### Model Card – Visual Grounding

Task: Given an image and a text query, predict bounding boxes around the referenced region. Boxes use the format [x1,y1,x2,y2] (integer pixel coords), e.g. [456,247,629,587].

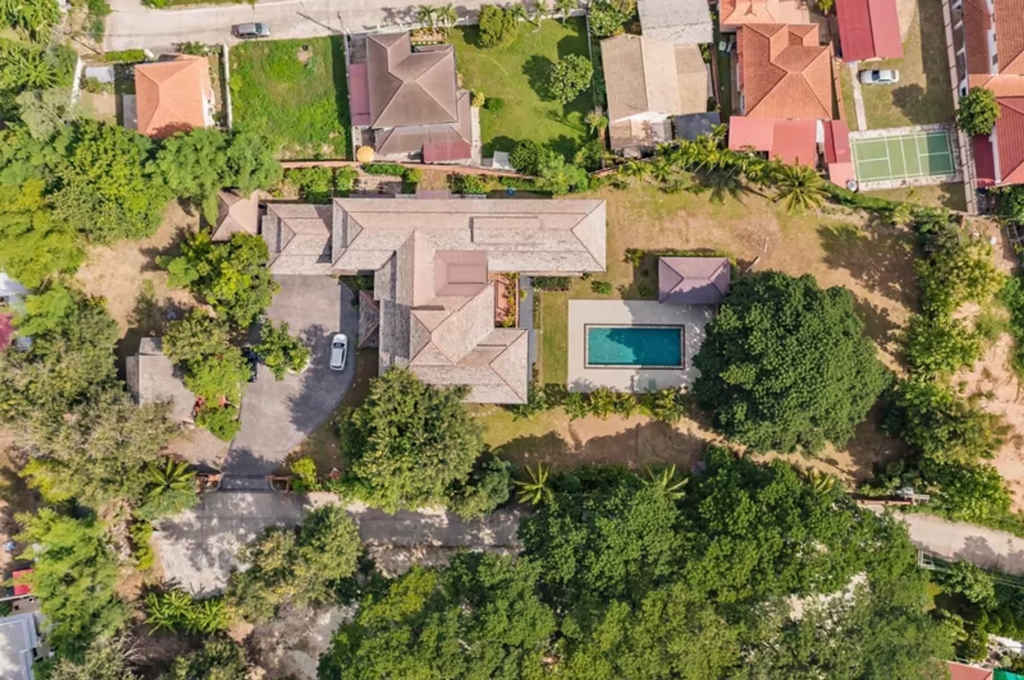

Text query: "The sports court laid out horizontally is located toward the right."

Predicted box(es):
[852,131,956,182]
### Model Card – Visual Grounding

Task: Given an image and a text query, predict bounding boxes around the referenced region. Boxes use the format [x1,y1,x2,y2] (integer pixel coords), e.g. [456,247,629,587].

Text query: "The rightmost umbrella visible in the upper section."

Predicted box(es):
[357,145,375,163]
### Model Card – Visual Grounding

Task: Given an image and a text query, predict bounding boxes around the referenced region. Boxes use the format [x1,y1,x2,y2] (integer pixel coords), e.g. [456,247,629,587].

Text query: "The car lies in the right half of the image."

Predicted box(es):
[859,67,899,86]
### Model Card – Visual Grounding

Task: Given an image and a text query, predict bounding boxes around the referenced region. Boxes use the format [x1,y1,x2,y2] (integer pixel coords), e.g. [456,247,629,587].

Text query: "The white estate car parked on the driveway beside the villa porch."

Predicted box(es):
[328,334,348,371]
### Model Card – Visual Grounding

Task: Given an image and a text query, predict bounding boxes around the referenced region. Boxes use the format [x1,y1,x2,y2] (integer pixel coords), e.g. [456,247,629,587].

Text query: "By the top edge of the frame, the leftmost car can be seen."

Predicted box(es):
[232,19,270,39]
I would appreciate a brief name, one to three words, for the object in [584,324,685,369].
swimming pool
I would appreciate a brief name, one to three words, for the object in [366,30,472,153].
house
